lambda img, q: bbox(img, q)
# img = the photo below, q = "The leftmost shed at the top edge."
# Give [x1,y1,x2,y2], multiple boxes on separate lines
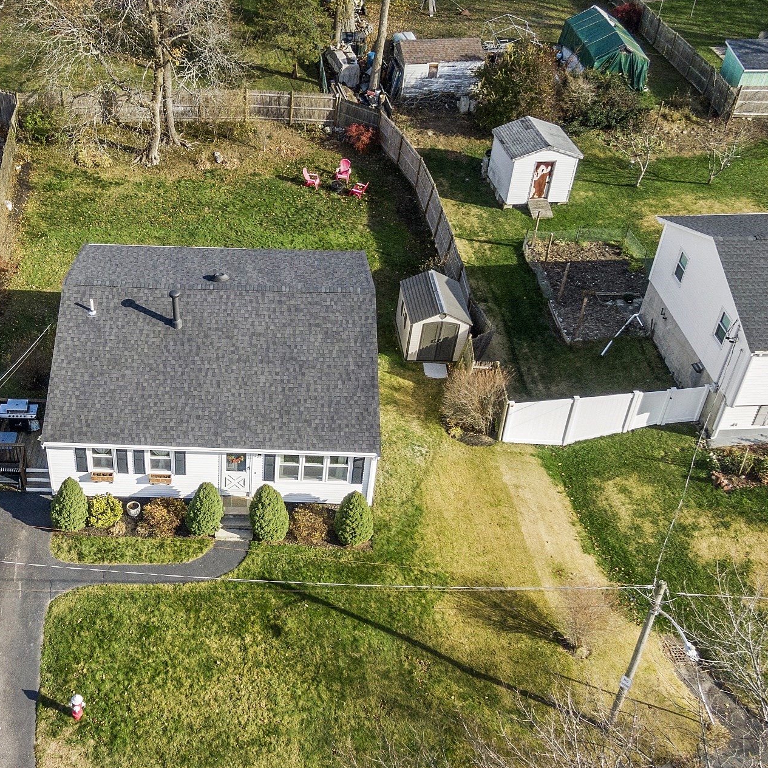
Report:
[392,37,489,97]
